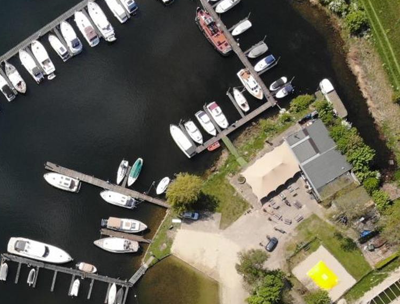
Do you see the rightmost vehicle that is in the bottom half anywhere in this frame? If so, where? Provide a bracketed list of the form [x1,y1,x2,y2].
[263,236,278,253]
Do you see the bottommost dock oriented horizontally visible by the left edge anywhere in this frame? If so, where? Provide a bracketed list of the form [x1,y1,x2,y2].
[2,251,134,289]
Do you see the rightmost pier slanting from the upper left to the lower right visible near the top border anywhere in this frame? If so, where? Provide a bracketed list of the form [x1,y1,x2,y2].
[202,0,279,107]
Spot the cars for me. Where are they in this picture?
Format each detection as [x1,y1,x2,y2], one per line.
[181,212,199,220]
[263,236,278,253]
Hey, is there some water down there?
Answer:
Yes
